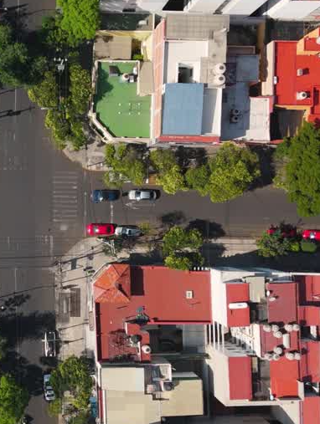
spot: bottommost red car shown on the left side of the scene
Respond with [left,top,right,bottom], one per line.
[87,223,114,236]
